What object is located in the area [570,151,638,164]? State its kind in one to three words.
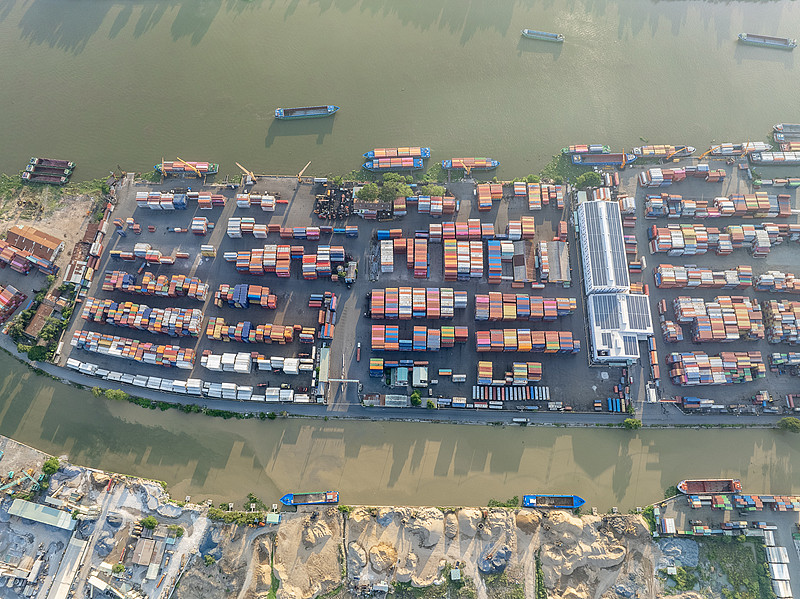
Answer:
vessel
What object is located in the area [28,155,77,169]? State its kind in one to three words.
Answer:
vessel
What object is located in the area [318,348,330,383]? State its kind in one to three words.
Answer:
building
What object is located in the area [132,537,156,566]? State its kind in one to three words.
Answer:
house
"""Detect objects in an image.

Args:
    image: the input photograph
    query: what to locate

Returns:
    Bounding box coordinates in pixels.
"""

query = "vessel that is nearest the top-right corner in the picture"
[738,34,797,50]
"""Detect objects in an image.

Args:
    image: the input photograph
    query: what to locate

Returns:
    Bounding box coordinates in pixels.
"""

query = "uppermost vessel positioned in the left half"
[275,104,340,119]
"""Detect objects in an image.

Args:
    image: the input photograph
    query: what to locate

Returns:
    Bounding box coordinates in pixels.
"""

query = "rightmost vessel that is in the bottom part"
[677,476,743,494]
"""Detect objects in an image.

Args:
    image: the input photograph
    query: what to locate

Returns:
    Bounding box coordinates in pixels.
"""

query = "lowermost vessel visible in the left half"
[280,488,339,504]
